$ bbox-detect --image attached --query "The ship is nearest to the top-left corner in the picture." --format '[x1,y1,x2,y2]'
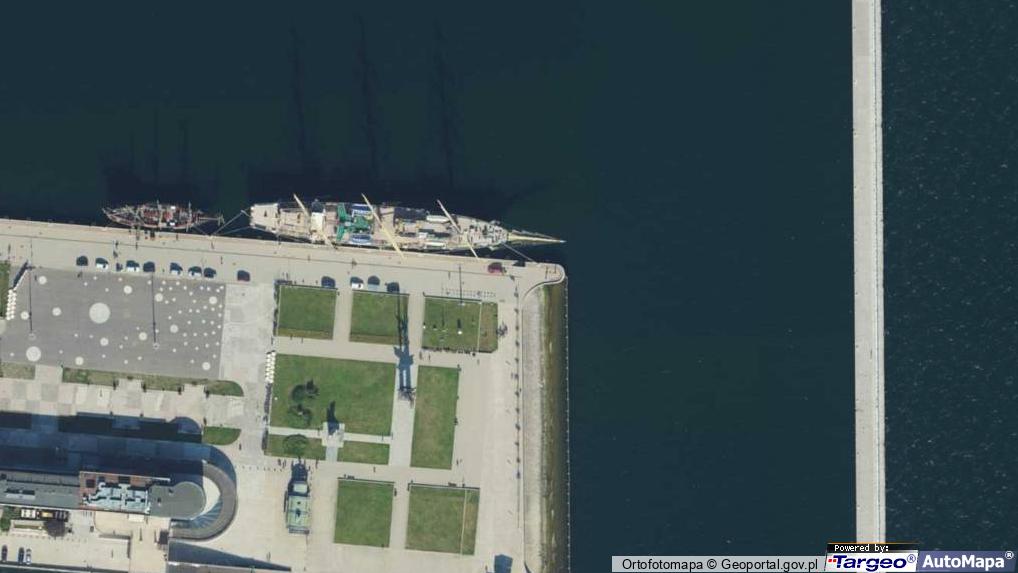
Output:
[101,200,224,234]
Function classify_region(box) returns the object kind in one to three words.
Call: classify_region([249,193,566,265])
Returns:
ship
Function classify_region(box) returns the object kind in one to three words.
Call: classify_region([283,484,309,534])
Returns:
building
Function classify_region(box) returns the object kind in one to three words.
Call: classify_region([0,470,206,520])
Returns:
building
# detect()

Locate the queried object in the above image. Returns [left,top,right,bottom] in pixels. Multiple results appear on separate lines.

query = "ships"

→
[249,193,566,265]
[101,200,224,234]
